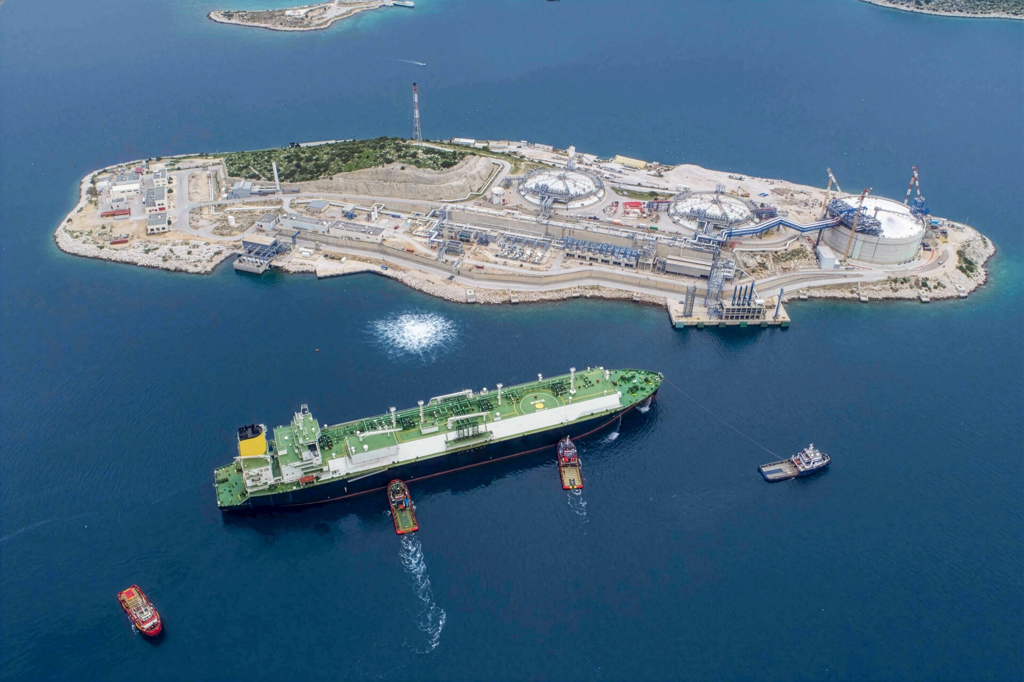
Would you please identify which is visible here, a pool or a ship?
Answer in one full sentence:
The one in the frame is a ship.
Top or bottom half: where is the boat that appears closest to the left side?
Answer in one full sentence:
It is in the bottom half that the boat that appears closest to the left side appears.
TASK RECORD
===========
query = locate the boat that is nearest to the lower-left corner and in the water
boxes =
[114,583,162,641]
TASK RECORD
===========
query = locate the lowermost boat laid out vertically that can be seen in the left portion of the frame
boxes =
[387,479,421,538]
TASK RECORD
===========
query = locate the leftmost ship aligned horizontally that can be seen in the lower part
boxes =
[211,362,664,511]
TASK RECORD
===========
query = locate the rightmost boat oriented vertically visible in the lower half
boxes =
[558,437,585,492]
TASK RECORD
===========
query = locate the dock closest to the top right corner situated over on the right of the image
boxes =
[666,294,791,326]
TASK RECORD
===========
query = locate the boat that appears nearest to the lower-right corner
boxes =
[756,443,831,482]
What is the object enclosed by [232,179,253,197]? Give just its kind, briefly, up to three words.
shed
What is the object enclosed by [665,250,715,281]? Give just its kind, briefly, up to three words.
building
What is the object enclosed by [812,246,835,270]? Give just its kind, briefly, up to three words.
shed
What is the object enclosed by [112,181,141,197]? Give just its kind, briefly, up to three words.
building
